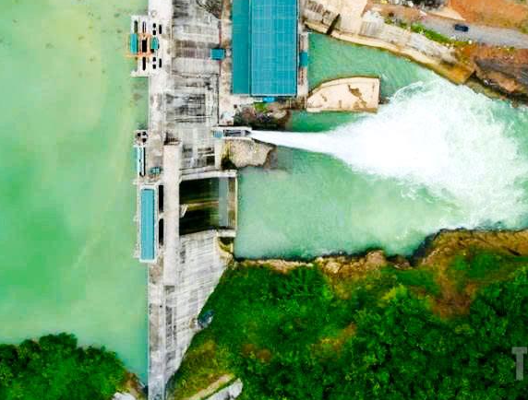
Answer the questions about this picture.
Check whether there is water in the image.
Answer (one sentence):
Yes, water can be seen from above here.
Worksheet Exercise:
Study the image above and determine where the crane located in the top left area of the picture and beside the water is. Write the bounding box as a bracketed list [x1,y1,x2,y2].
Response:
[124,32,159,56]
